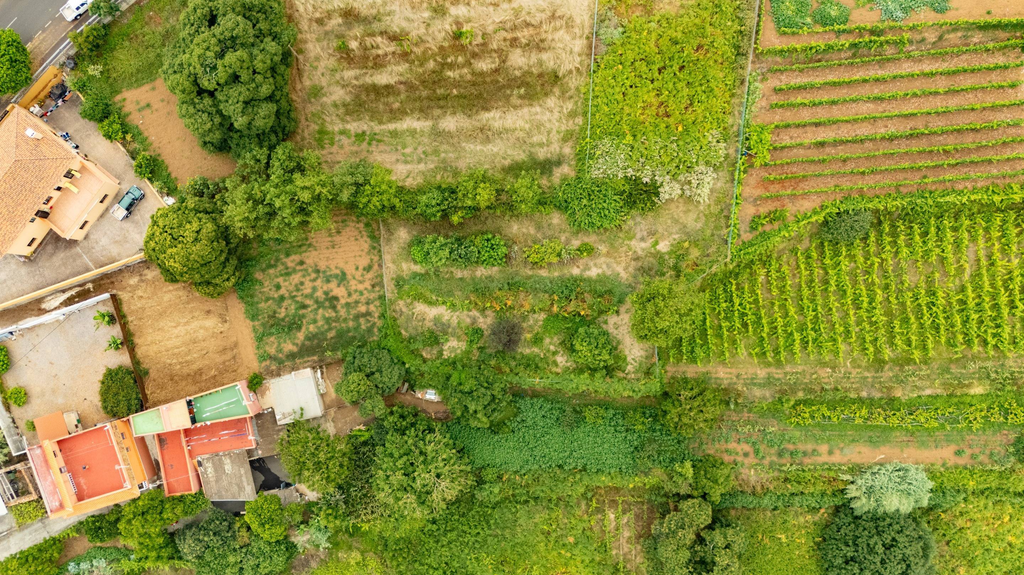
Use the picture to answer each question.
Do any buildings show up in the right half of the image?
No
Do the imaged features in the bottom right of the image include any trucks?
No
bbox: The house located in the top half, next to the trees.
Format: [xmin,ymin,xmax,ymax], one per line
[0,106,125,259]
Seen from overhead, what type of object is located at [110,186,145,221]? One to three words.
truck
